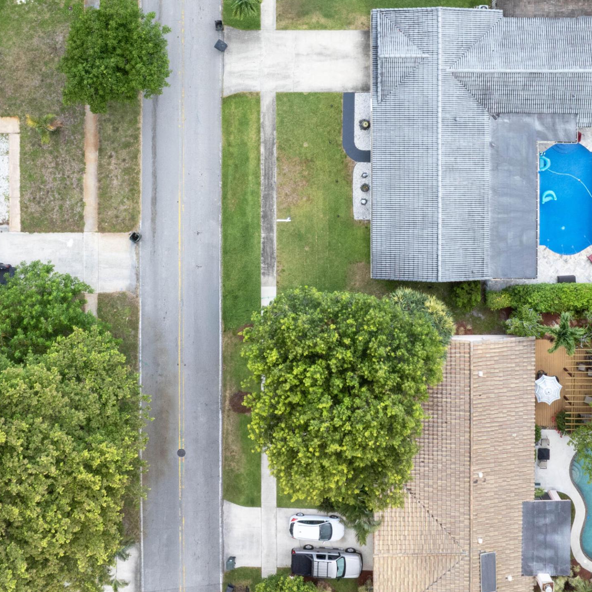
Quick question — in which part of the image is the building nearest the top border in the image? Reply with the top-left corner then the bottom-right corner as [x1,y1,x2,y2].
[370,6,592,283]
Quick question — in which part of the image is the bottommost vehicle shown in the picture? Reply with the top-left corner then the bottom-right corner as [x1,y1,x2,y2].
[291,544,363,580]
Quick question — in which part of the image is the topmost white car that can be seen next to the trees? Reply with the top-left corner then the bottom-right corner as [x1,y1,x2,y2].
[290,510,345,544]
